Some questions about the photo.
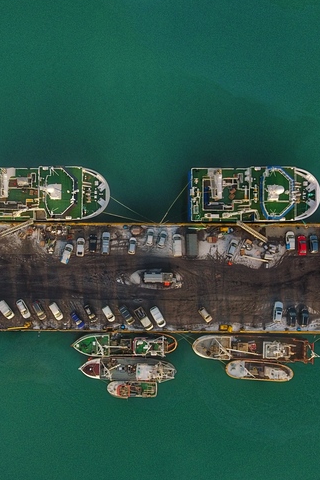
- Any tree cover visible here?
No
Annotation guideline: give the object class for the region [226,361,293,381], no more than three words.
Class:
boat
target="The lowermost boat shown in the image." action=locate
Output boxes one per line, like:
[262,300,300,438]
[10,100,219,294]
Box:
[107,381,158,402]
